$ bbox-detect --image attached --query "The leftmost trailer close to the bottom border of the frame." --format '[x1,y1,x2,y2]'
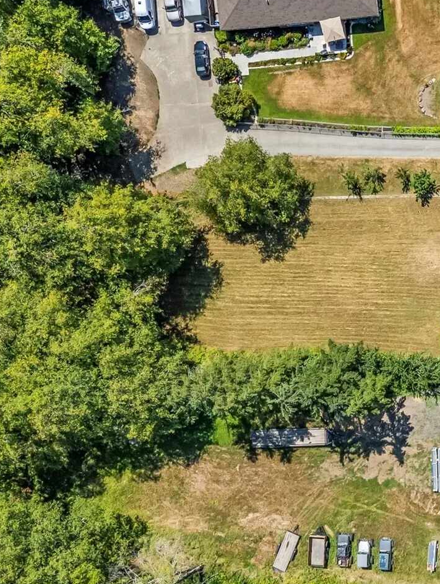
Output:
[272,524,303,575]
